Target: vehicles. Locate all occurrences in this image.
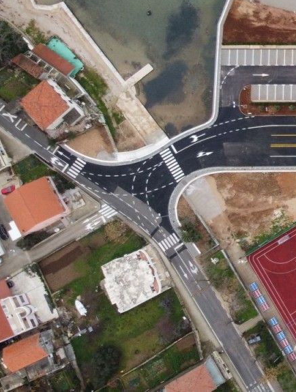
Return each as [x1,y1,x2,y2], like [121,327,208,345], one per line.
[0,185,15,195]
[0,224,9,240]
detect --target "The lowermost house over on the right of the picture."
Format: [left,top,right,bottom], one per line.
[165,354,228,392]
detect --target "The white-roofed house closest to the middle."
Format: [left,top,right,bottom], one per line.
[101,248,165,313]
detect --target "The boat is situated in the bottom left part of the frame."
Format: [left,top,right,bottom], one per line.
[73,303,86,317]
